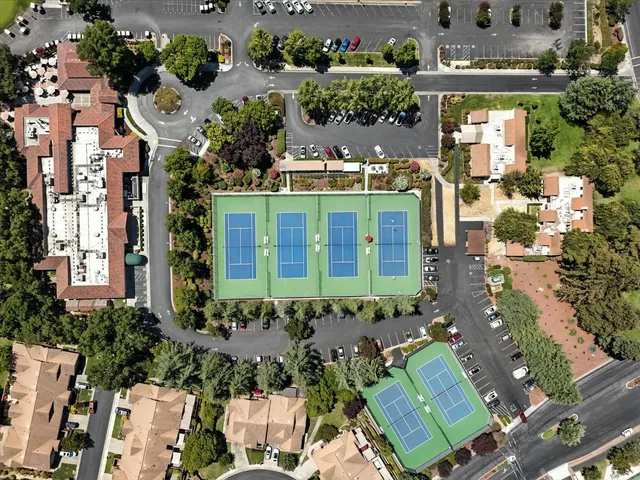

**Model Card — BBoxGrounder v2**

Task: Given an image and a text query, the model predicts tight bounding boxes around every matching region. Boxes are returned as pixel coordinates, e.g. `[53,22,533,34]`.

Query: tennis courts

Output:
[316,193,370,298]
[406,342,490,450]
[213,194,266,299]
[368,192,422,297]
[364,368,451,471]
[264,194,319,299]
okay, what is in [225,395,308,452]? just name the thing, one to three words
house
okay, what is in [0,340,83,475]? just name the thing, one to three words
house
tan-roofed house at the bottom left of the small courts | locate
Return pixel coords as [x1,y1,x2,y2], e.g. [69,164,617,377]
[312,430,381,480]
